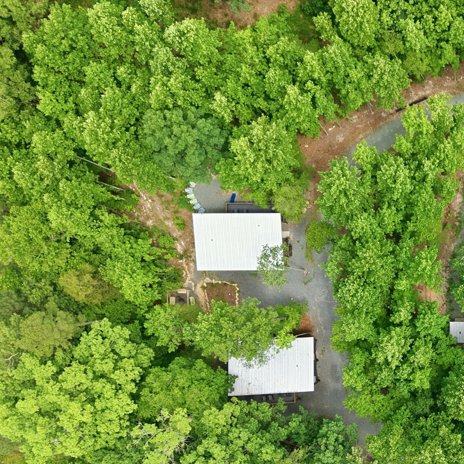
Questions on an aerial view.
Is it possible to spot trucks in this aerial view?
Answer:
No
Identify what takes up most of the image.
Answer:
trees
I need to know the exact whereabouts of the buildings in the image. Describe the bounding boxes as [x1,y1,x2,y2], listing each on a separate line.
[449,318,464,343]
[228,338,321,403]
[193,203,292,271]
